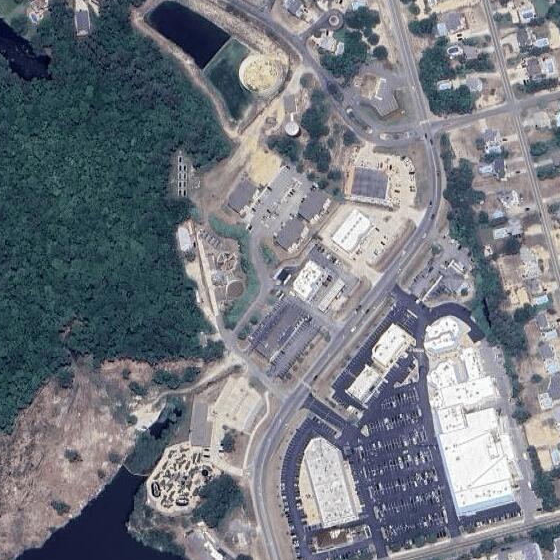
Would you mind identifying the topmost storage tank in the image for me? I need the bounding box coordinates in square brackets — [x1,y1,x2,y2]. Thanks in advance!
[239,51,288,95]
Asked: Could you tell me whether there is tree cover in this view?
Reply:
Yes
